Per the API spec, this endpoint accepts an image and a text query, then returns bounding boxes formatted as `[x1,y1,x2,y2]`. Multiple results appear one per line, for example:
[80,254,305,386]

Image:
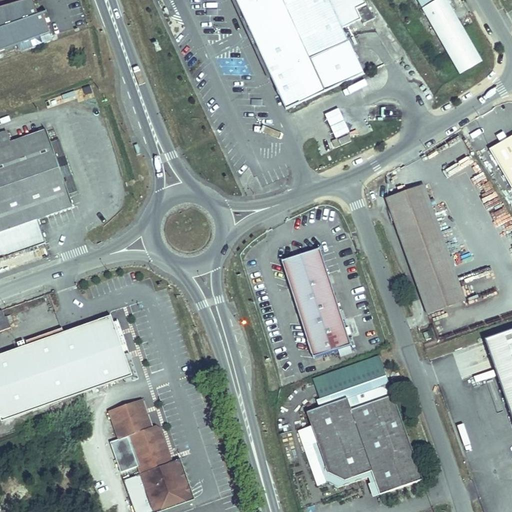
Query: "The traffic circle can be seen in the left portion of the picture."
[145,186,230,272]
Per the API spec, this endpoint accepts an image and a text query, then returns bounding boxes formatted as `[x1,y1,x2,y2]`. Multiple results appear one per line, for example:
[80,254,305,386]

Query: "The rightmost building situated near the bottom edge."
[352,394,422,495]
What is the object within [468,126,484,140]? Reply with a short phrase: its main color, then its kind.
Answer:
white vehicle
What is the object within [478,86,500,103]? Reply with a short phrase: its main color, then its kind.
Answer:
white vehicle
